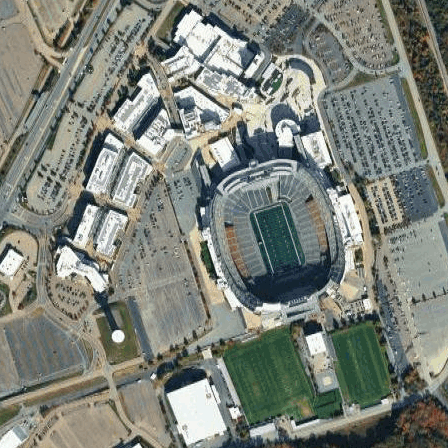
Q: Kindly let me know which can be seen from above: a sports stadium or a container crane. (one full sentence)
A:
Looking from above, you can make out a sports stadium.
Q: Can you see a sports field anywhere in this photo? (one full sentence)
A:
Yes, there's a sports field down there.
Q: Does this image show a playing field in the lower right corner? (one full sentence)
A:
Yes, I can see a playing field in the lower right corner.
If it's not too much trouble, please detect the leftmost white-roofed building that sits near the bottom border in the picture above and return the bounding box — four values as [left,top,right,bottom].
[0,425,29,448]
